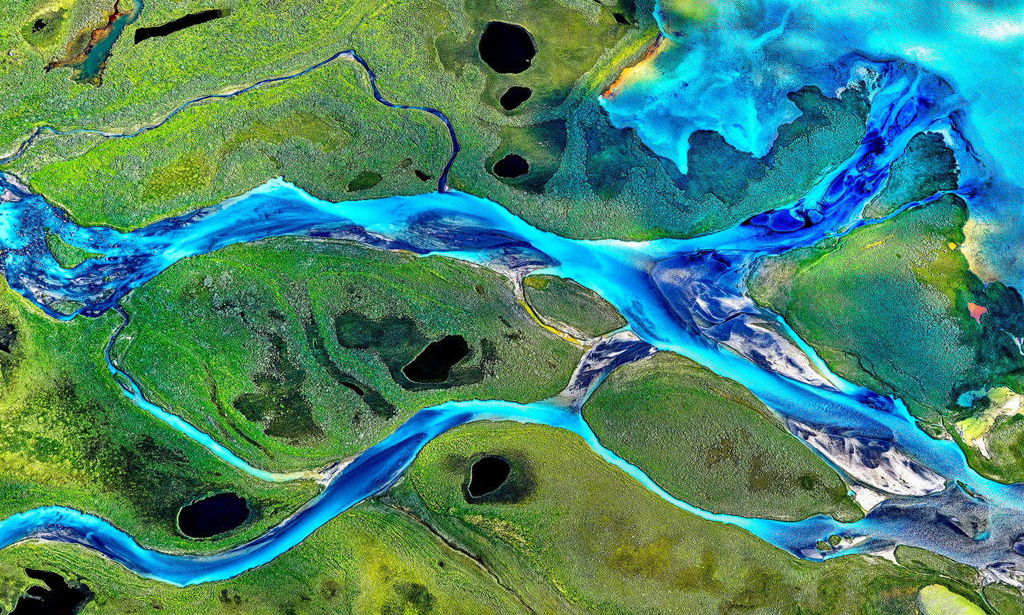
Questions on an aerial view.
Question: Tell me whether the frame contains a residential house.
No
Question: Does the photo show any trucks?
No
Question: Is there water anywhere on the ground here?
Yes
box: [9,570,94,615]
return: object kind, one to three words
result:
pond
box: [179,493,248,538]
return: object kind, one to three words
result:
pond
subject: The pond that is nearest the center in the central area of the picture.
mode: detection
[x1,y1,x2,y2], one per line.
[403,335,468,382]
